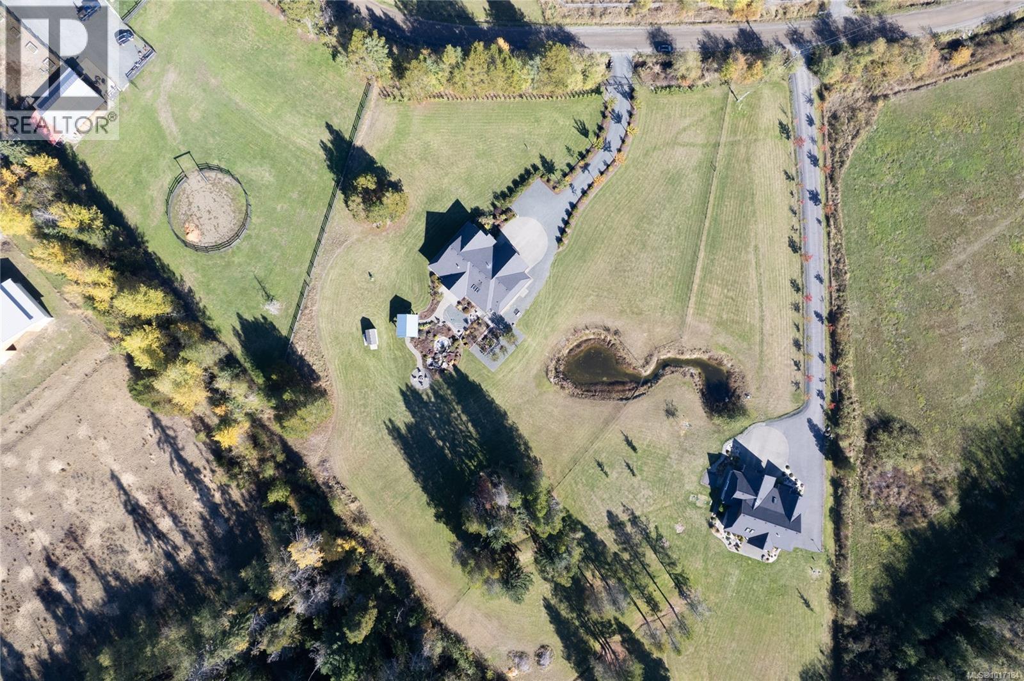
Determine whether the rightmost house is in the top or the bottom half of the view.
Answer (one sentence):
You can find the rightmost house in the bottom half.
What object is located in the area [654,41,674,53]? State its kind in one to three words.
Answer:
vehicle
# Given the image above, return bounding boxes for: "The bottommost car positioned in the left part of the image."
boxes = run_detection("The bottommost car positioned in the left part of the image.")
[113,30,138,47]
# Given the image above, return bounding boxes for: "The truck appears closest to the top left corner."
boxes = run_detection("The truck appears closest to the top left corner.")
[76,0,104,22]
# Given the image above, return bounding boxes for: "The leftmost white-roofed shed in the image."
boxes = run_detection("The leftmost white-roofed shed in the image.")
[0,278,51,358]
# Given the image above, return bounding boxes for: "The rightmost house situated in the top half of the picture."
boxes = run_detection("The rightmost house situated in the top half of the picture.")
[428,221,533,316]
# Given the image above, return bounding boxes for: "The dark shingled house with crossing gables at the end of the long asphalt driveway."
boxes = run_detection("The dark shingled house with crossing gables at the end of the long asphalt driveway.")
[723,468,809,552]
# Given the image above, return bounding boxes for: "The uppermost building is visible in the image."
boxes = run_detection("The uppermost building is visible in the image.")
[33,66,112,142]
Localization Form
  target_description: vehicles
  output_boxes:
[76,0,104,22]
[654,41,674,53]
[113,30,138,47]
